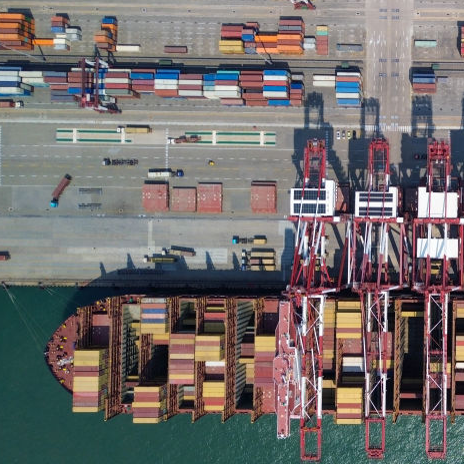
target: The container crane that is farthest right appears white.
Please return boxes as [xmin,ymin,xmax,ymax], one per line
[411,137,464,460]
